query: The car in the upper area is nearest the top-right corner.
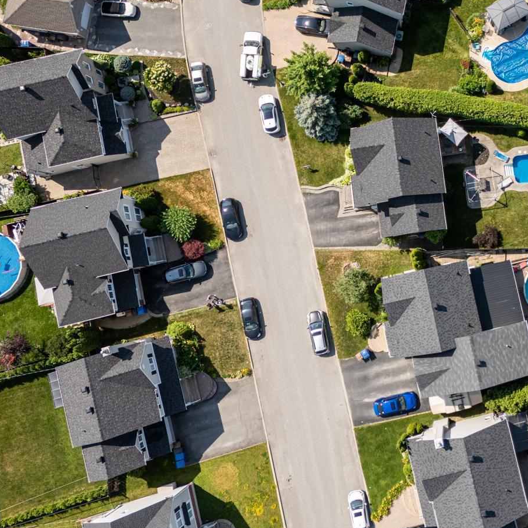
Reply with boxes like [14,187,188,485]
[293,16,329,35]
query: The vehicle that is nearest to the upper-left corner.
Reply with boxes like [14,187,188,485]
[99,0,137,19]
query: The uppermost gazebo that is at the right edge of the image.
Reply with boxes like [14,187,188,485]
[485,0,528,35]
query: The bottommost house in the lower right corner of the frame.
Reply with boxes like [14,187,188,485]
[403,410,528,528]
